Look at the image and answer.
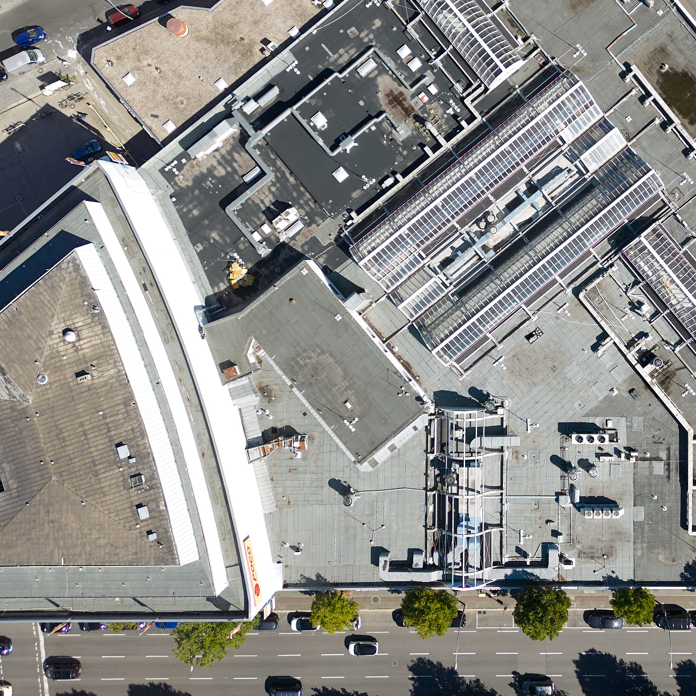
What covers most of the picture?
buildings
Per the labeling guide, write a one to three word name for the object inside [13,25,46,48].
car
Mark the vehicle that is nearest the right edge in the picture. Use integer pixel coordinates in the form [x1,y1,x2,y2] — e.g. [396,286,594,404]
[656,614,691,631]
